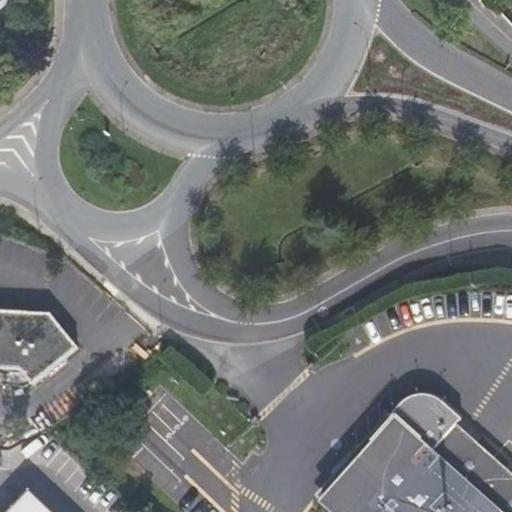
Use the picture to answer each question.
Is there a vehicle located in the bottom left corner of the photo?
Yes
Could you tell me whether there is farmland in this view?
No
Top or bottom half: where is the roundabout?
top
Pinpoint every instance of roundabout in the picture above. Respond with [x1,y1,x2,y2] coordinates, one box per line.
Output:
[70,0,374,152]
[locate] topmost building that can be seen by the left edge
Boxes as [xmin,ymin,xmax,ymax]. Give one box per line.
[0,310,78,385]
